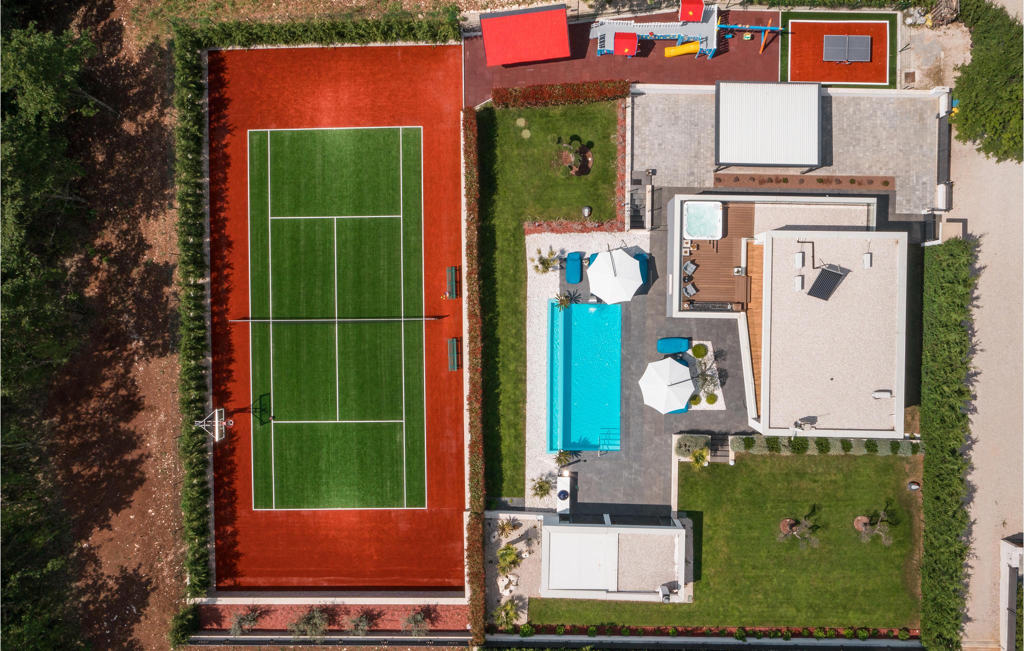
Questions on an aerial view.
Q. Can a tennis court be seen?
Yes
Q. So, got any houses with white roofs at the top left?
No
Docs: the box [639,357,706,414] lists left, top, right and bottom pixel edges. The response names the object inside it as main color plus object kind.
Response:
white umbrella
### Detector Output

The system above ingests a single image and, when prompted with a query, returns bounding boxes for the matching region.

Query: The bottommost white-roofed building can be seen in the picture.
[540,513,685,604]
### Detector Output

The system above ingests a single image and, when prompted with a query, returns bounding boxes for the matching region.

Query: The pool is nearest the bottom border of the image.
[546,299,621,454]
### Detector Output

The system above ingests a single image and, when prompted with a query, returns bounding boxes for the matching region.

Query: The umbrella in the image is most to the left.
[587,236,643,304]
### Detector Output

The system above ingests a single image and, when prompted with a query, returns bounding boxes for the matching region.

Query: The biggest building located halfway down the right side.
[665,195,907,439]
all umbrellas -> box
[587,236,643,304]
[639,357,706,414]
